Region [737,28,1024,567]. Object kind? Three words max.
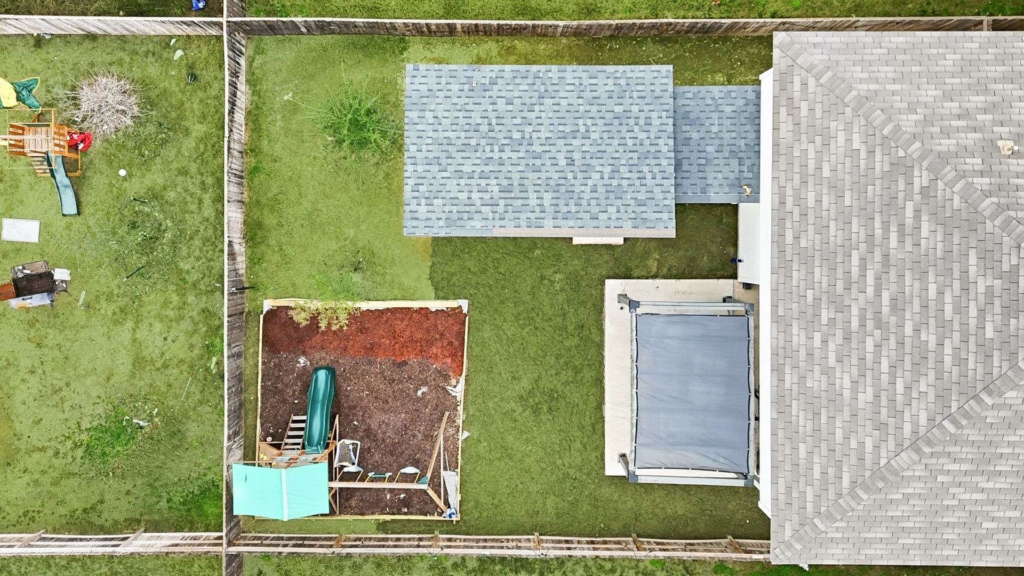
house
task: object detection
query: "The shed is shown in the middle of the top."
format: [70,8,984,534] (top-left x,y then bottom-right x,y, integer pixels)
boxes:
[404,65,676,237]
